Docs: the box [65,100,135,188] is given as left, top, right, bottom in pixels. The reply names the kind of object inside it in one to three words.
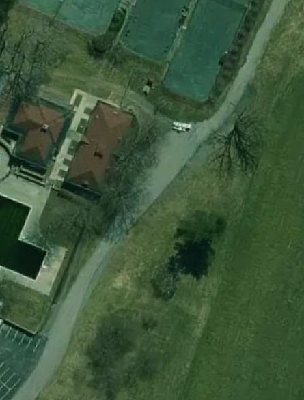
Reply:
building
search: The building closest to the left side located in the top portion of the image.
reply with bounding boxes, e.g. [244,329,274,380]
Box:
[3,97,70,167]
